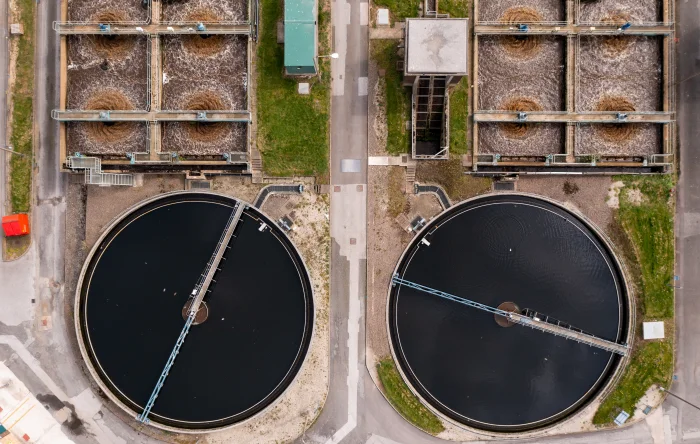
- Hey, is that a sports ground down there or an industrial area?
industrial area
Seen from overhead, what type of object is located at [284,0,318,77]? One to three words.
shed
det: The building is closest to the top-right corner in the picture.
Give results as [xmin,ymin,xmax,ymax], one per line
[402,18,468,83]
